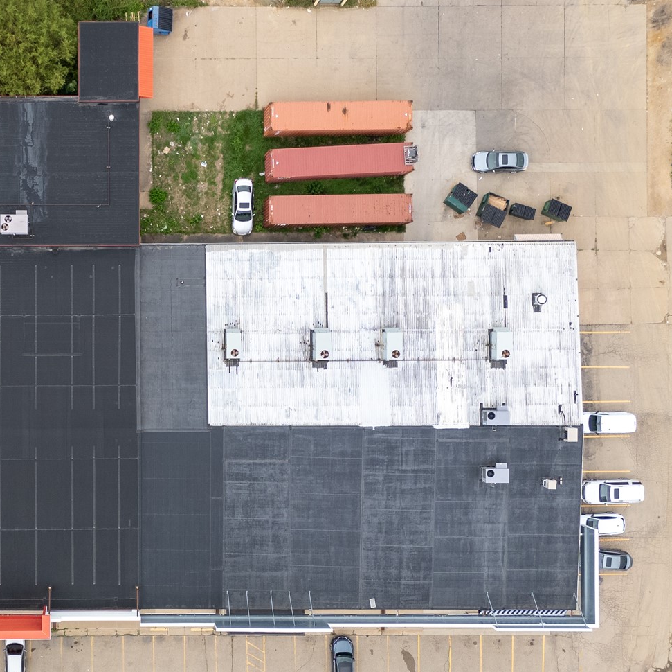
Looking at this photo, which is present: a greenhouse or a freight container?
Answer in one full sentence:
I can see a freight container in this picture.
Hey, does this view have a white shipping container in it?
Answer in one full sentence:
No, there isn't any white shipping container down there.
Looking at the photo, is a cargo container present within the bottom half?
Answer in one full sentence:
No, the scene shows no cargo container within the bottom half.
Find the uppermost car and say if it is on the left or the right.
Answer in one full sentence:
You can find the uppermost car on the right side of the picture.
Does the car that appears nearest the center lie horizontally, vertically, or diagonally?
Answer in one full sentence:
The car that appears nearest the center has been laid out vertically relative to the frame.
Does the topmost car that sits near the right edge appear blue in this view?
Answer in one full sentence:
No, the color of the topmost car that sits near the right edge is white.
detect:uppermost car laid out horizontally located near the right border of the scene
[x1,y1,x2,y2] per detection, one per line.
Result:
[583,411,640,436]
